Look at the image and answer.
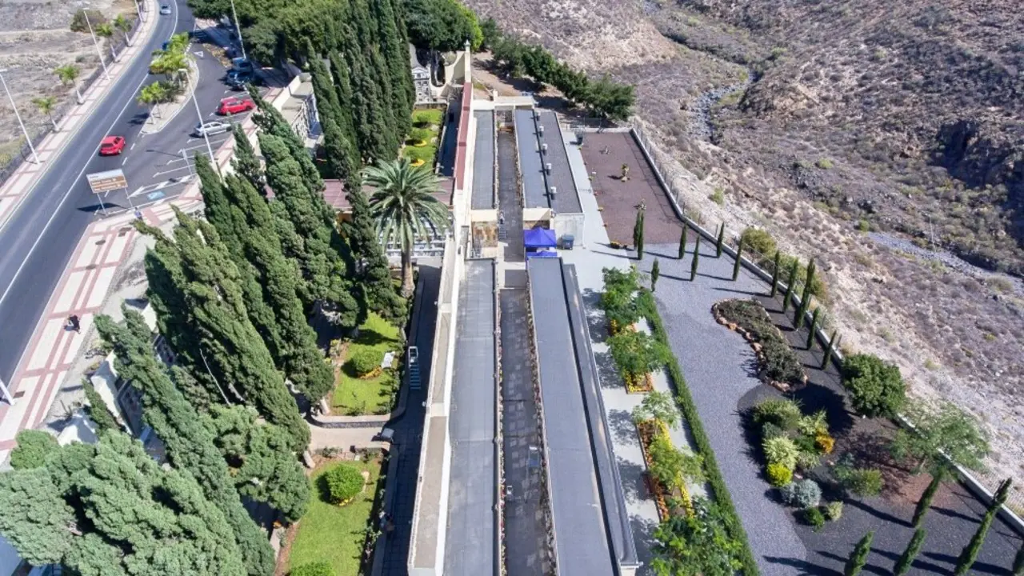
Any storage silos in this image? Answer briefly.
No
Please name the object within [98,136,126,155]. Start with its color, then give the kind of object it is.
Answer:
red car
